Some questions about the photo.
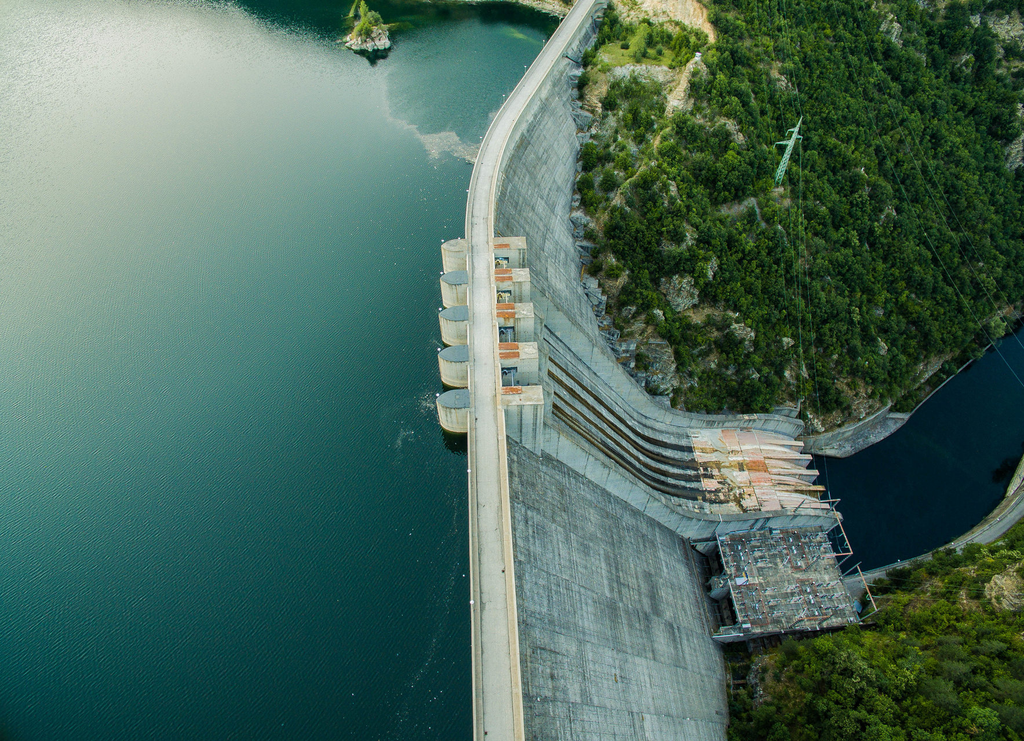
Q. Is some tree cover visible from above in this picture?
Yes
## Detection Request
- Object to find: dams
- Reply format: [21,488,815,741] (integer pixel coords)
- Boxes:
[435,0,839,741]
